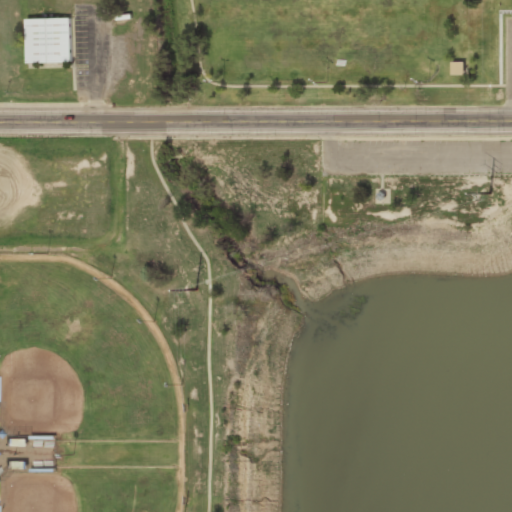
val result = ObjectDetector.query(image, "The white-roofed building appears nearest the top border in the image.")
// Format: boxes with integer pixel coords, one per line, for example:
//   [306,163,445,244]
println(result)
[24,18,73,64]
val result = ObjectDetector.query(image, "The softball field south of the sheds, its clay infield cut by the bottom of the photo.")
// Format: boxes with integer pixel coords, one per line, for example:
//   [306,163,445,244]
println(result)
[0,454,186,512]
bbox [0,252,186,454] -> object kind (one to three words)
baseball field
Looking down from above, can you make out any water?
Yes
